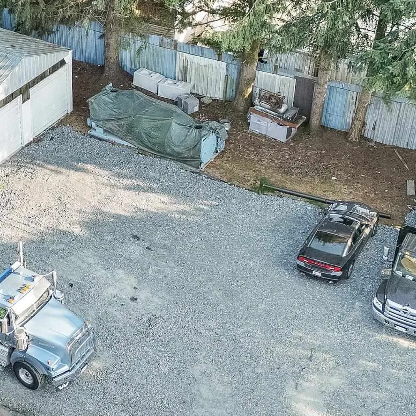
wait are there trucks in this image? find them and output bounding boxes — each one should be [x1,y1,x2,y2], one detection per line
[0,232,102,394]
[375,226,416,338]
